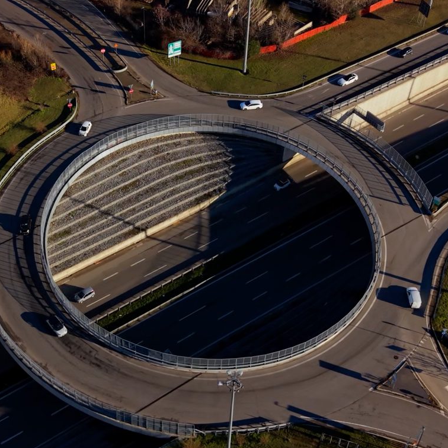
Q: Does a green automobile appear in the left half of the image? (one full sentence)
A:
No, I can find no green automobile in the left half of the image.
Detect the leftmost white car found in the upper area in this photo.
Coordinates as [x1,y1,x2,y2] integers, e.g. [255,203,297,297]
[78,120,92,138]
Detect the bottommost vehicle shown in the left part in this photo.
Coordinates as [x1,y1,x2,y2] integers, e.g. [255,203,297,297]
[44,312,68,338]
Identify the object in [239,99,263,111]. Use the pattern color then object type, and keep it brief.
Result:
white vehicle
